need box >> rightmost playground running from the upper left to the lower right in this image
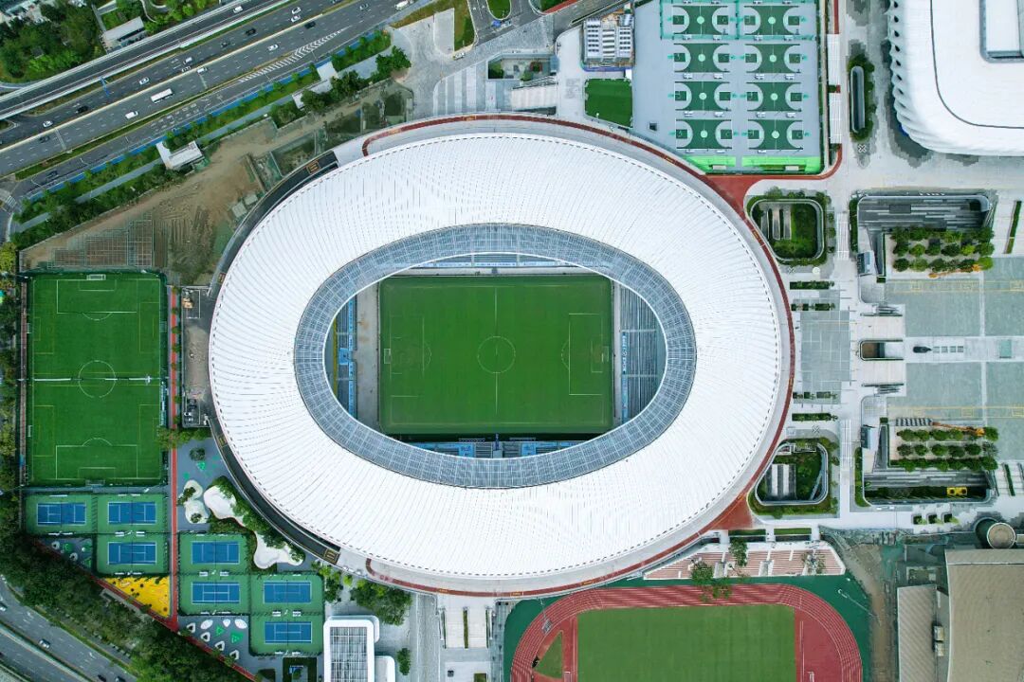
[178,617,259,677]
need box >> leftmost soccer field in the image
[25,273,162,486]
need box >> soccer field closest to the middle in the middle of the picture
[378,275,612,434]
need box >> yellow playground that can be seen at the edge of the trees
[104,576,170,619]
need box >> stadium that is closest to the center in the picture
[210,132,779,579]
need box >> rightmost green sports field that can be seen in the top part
[585,78,632,127]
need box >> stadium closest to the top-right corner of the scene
[891,0,1024,152]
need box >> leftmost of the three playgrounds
[39,536,92,572]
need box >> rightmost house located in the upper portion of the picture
[854,251,873,275]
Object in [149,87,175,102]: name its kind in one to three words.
vehicle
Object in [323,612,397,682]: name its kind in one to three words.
building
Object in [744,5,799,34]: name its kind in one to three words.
basketball court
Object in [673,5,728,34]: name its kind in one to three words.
basketball court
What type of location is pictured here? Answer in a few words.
sports ground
